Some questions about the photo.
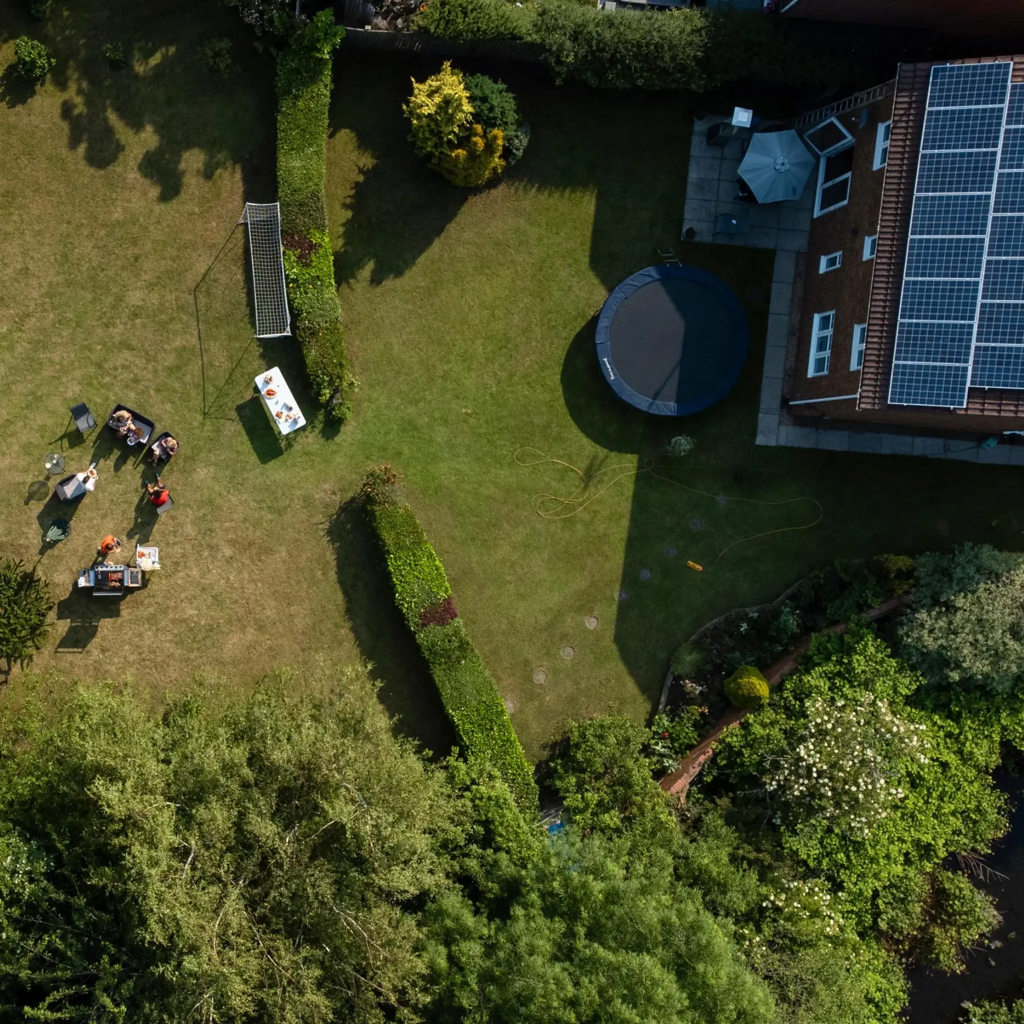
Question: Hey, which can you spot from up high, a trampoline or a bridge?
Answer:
trampoline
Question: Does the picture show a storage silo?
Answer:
No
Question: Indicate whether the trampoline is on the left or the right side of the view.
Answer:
right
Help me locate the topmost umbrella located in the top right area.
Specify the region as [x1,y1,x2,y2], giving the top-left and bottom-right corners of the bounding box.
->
[737,129,815,204]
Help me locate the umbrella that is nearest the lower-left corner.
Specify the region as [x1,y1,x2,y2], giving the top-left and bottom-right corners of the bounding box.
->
[44,512,73,540]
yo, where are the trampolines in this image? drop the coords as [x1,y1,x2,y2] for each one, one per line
[595,254,748,417]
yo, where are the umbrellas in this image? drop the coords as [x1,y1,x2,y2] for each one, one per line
[737,129,815,204]
[44,512,73,540]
